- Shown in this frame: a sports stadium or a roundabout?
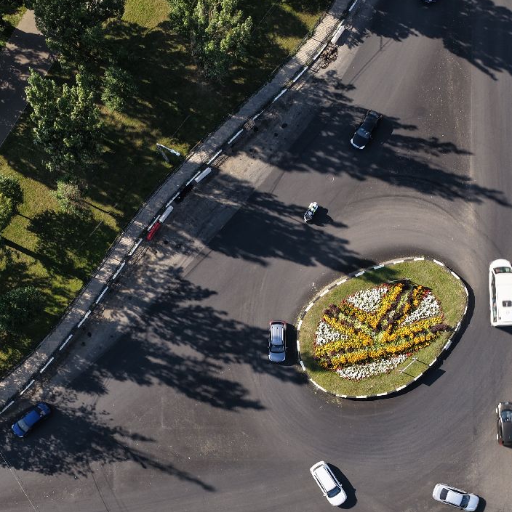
roundabout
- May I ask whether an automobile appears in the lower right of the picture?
Yes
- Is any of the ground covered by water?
No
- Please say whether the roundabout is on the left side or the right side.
right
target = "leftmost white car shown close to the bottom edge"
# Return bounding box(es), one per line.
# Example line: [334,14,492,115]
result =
[311,460,346,509]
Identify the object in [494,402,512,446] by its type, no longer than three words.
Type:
car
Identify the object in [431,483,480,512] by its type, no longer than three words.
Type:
car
